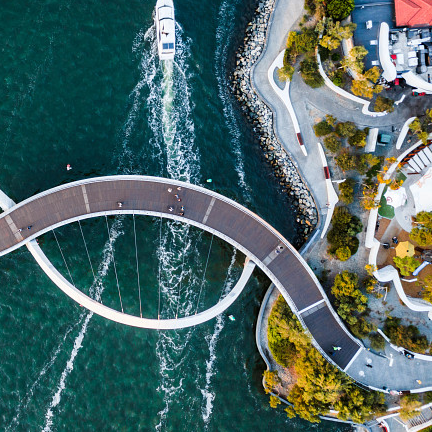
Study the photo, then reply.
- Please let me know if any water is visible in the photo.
Yes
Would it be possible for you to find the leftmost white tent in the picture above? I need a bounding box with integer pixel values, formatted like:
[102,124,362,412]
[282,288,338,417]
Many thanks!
[382,188,407,208]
